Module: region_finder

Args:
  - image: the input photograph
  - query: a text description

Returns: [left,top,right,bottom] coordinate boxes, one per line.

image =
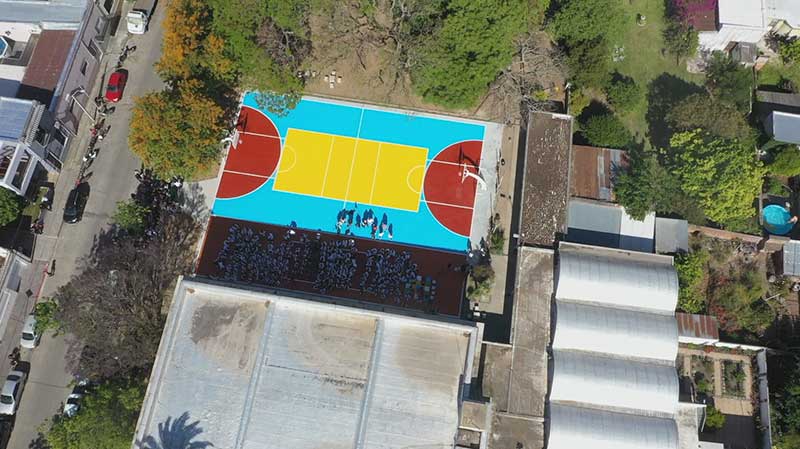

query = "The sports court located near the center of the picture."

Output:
[196,94,484,313]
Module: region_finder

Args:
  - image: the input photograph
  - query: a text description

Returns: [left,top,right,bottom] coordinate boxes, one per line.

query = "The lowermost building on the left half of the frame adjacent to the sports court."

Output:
[134,276,477,449]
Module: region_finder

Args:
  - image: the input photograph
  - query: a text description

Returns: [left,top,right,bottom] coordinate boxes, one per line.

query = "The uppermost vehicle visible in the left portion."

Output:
[129,0,155,32]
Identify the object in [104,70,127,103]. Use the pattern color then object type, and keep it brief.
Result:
red car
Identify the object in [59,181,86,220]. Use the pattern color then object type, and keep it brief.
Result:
black car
